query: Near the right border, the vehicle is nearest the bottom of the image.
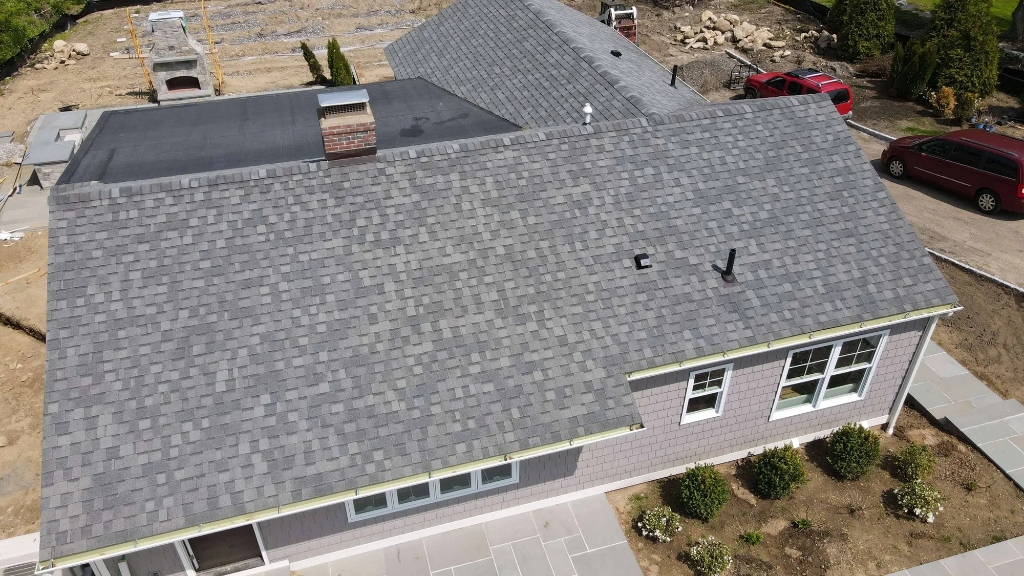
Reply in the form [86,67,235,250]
[877,132,1024,218]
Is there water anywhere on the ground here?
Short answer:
No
